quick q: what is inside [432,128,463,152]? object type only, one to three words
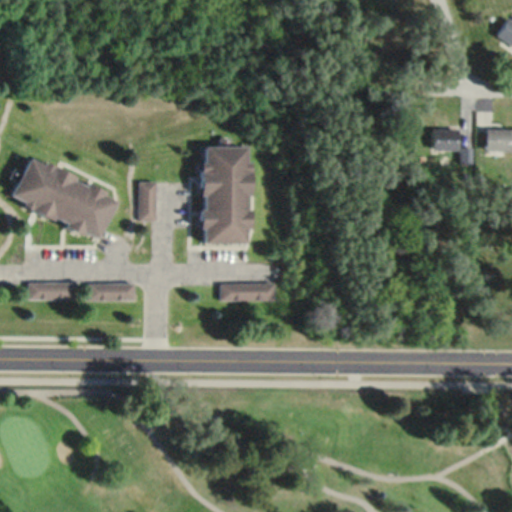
house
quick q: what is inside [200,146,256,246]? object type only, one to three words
building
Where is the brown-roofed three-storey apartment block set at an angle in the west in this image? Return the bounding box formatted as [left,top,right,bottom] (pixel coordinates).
[12,159,118,236]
